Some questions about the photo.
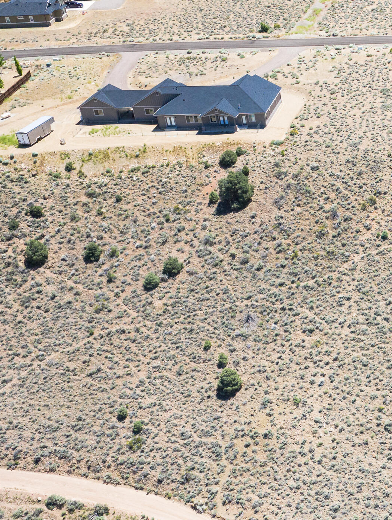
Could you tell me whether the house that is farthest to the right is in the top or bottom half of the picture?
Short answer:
top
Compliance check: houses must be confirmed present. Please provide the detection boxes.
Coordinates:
[0,0,78,28]
[76,74,282,132]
